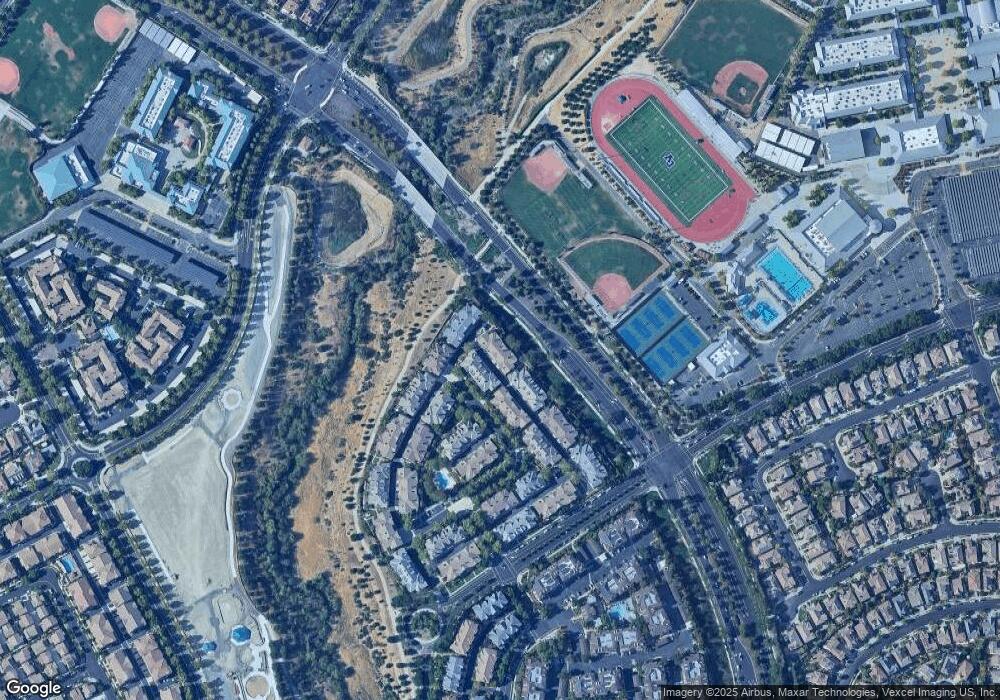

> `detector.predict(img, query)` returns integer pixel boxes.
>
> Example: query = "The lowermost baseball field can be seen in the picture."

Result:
[561,233,669,314]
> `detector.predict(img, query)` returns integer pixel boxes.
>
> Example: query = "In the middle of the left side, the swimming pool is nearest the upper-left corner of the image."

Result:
[103,324,120,343]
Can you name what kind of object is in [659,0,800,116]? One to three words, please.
baseball field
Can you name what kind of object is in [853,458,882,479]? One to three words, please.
house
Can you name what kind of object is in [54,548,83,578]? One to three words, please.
swimming pool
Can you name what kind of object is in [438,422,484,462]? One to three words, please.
building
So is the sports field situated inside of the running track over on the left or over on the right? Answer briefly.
right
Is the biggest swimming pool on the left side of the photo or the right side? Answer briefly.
right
